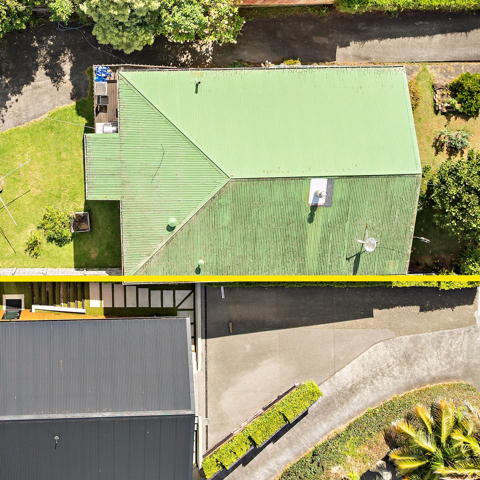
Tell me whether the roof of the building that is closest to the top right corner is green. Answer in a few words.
Yes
